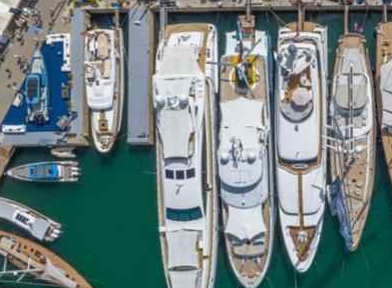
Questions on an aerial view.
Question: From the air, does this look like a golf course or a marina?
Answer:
marina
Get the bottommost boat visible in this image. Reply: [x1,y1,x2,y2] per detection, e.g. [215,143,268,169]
[0,226,100,288]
